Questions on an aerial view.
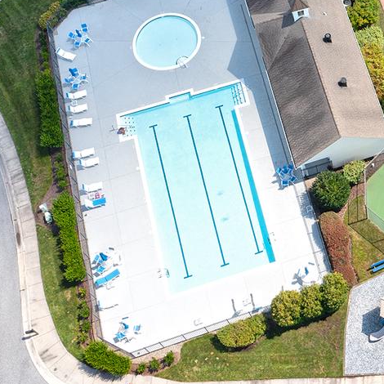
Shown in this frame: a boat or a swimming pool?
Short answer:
swimming pool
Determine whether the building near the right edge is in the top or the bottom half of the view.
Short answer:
top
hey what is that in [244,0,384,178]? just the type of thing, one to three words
building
